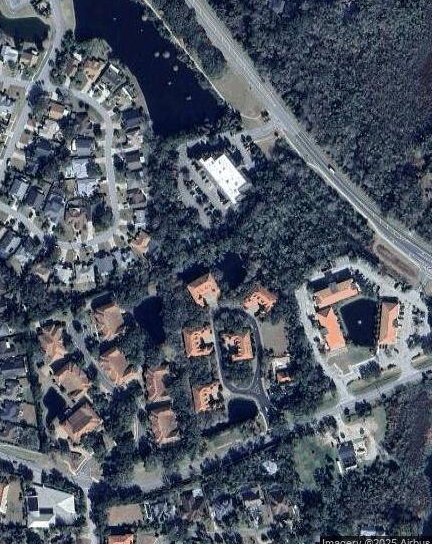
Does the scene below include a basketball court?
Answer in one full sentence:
No, there's no basketball court here.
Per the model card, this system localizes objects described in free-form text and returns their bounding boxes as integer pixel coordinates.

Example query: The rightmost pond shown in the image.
[338,296,381,348]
